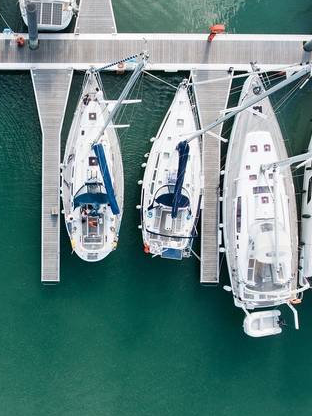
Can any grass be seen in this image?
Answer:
No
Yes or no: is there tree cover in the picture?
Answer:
No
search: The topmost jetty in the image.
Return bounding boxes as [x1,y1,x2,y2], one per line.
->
[75,0,117,34]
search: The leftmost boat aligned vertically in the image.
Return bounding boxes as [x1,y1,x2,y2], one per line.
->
[63,29,154,263]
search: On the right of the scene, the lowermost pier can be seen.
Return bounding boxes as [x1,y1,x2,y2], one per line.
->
[189,70,233,285]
